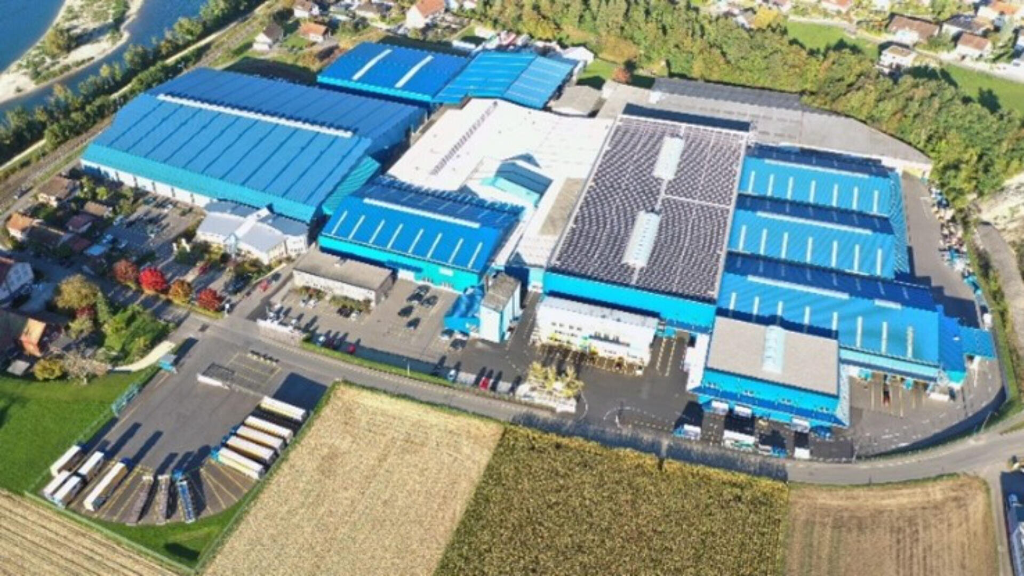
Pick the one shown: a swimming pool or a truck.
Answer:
truck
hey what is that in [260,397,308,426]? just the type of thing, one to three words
vehicle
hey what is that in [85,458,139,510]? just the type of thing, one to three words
truck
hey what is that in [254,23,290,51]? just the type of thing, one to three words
house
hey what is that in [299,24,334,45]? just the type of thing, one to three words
house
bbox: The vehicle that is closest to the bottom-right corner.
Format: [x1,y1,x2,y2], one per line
[928,389,952,405]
